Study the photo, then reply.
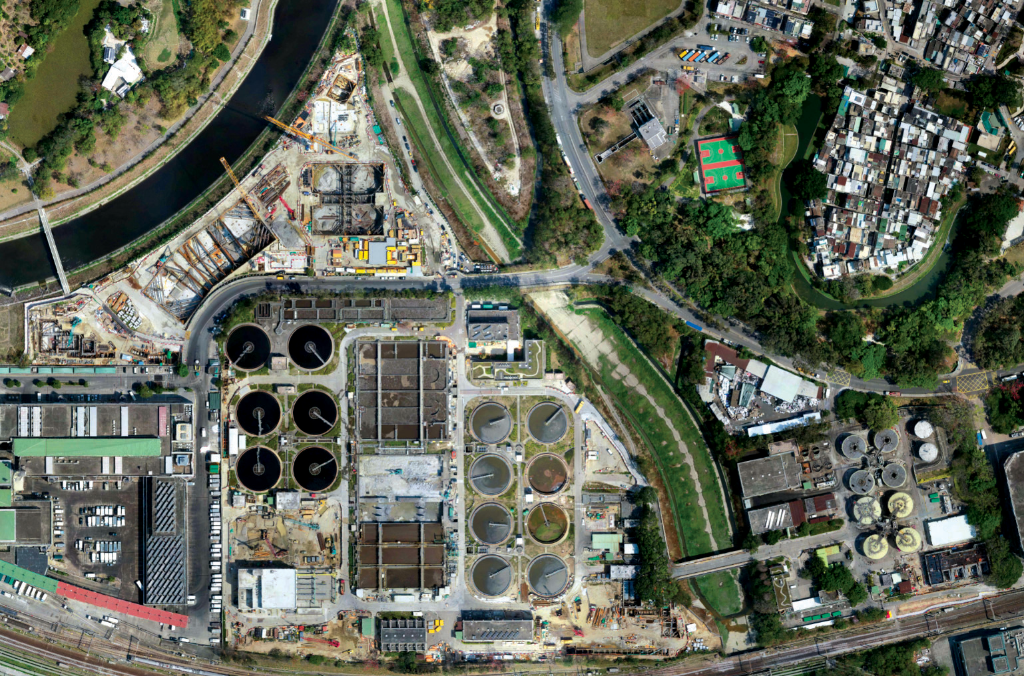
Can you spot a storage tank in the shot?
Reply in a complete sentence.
Yes, the frame does contain a storage tank.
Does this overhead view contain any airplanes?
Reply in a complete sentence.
No, no airplane can be seen from above.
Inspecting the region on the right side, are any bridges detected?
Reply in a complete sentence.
Yes, the scene does show a bridge on the right side.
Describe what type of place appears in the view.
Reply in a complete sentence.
This image shows a residential area.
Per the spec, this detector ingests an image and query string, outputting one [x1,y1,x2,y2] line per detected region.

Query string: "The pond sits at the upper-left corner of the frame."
[8,0,102,147]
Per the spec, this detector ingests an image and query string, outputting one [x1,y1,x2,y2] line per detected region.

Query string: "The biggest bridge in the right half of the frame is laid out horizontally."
[673,548,752,580]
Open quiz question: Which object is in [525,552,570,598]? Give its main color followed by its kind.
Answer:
gray storage tank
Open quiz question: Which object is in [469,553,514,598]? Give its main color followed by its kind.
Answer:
gray storage tank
